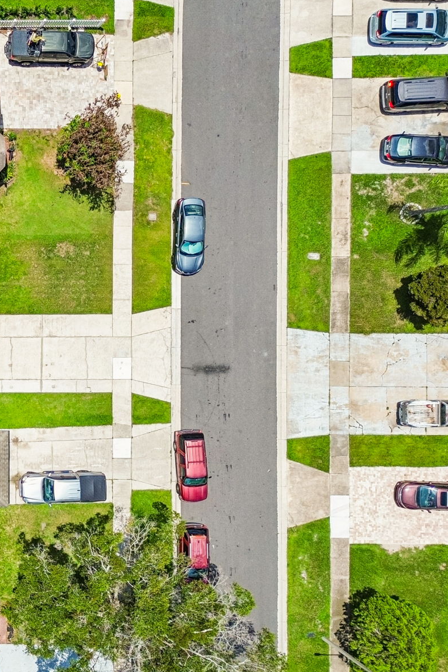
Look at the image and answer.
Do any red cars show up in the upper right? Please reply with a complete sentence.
No, I can find no red car in the upper right.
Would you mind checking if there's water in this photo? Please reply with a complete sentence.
No, the picture contains no water.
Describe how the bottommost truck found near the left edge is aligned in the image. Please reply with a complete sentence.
I'd say the bottommost truck found near the left edge is aligned horizontally in the picture.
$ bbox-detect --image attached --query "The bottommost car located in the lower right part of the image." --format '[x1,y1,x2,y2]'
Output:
[397,479,448,515]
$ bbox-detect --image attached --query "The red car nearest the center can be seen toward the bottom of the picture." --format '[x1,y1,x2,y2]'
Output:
[172,428,213,501]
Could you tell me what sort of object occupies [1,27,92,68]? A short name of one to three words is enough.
truck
